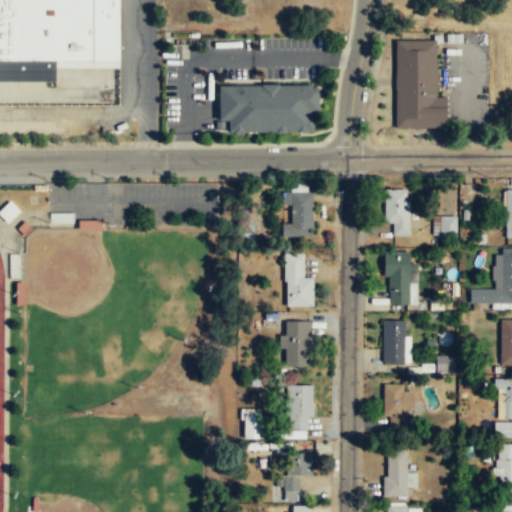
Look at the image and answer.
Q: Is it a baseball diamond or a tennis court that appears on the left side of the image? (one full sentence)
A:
You can see a baseball diamond on the left side of the image.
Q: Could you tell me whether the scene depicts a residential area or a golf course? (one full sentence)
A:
The picture captures a residential area.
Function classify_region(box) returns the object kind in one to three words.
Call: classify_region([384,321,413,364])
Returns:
house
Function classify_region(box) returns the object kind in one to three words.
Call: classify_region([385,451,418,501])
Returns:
house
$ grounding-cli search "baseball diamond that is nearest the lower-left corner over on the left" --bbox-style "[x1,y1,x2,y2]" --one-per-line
[24,416,204,512]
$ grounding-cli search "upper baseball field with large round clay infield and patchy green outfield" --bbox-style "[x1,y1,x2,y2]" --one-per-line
[26,230,209,417]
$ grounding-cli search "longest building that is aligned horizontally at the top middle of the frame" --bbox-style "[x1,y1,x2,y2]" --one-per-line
[218,84,320,134]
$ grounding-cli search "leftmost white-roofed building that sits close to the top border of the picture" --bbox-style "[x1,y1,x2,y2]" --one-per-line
[0,0,120,80]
